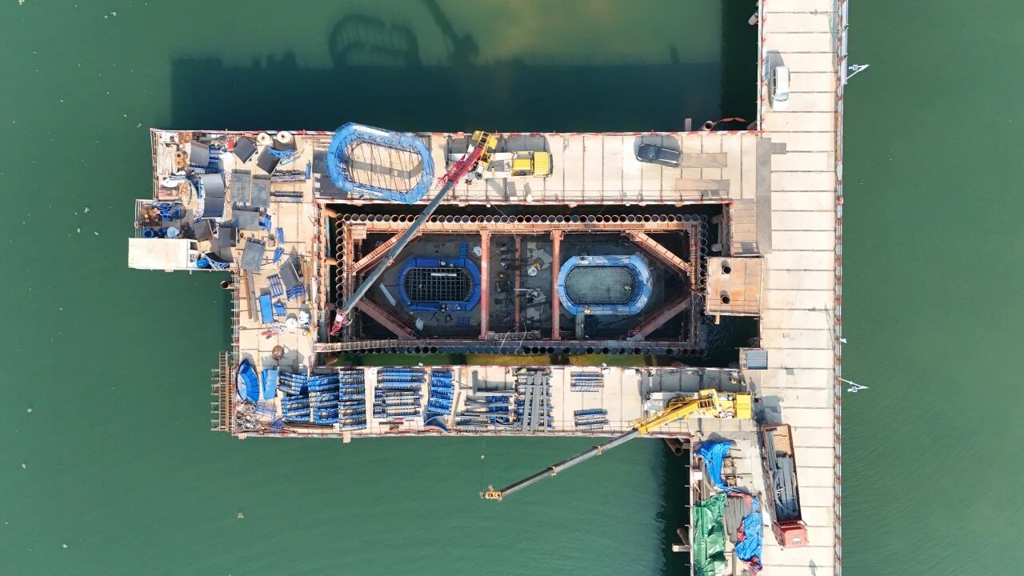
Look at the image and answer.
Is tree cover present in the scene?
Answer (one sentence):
No, tree cover can't be seen anywhere here.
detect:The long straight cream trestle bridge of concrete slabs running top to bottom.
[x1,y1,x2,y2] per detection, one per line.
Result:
[740,0,850,576]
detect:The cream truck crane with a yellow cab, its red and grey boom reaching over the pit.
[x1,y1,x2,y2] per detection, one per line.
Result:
[326,127,554,343]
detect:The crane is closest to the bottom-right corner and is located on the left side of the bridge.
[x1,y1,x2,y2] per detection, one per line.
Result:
[479,376,753,506]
